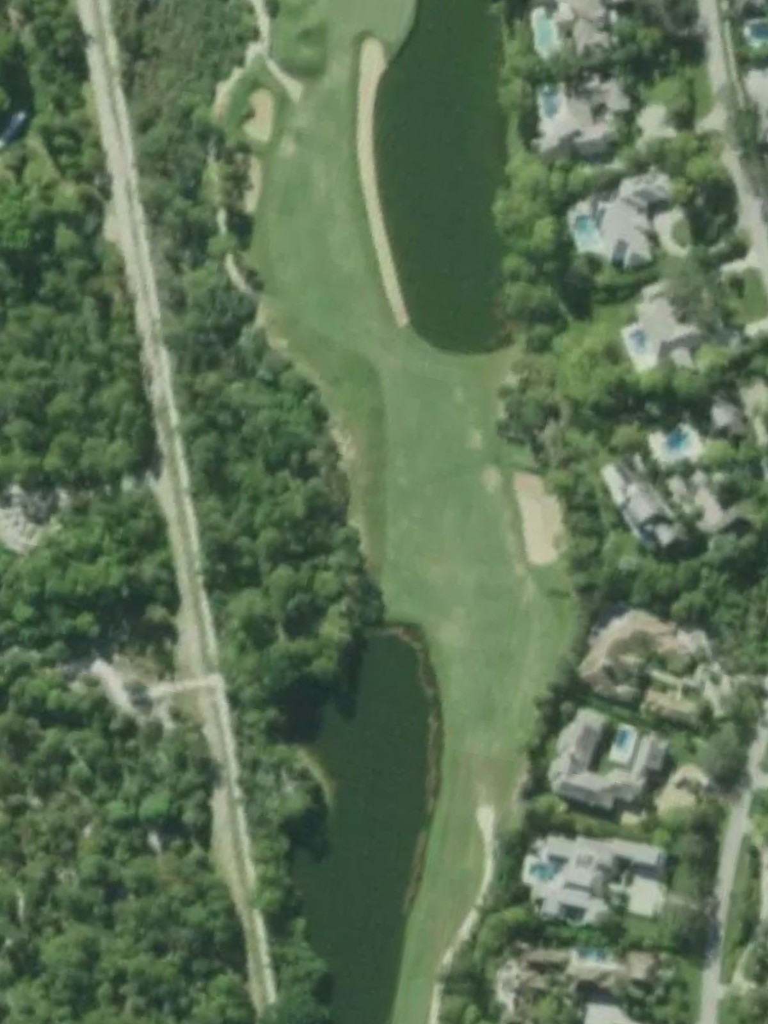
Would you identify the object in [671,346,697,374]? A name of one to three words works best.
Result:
building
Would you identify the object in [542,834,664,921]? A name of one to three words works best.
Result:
house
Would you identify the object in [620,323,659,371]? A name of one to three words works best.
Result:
swimming pool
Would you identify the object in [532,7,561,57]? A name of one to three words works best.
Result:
swimming pool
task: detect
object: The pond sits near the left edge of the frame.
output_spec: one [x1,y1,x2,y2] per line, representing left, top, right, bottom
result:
[0,55,29,153]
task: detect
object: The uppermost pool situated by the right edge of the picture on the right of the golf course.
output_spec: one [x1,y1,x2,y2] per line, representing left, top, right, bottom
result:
[744,18,768,49]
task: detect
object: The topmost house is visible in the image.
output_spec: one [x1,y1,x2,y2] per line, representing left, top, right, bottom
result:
[557,0,613,52]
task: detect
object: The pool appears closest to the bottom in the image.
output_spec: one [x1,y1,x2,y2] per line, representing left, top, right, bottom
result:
[569,944,624,964]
